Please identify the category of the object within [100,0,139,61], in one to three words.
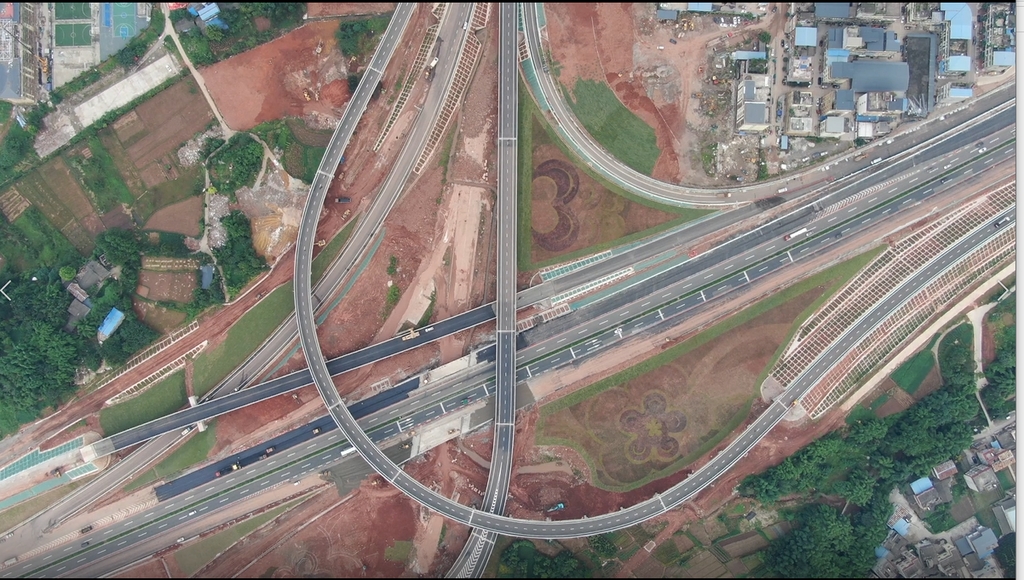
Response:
basketball court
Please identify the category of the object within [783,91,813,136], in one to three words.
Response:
building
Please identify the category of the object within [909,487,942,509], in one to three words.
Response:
house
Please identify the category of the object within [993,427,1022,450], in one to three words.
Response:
house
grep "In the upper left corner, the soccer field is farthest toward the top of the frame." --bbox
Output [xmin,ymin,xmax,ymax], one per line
[53,0,92,20]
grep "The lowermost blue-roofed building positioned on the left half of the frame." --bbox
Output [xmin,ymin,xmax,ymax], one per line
[99,308,127,335]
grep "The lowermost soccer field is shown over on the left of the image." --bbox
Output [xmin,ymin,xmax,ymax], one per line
[53,22,92,47]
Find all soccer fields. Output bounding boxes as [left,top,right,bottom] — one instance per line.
[53,22,92,47]
[53,0,92,20]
